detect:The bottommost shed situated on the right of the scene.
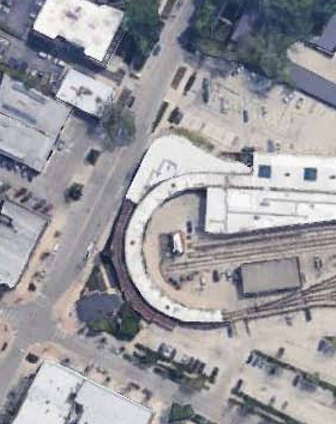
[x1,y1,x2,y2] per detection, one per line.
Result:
[242,259,301,292]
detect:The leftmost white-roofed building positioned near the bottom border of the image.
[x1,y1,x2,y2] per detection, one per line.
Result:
[13,358,85,424]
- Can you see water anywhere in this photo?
No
